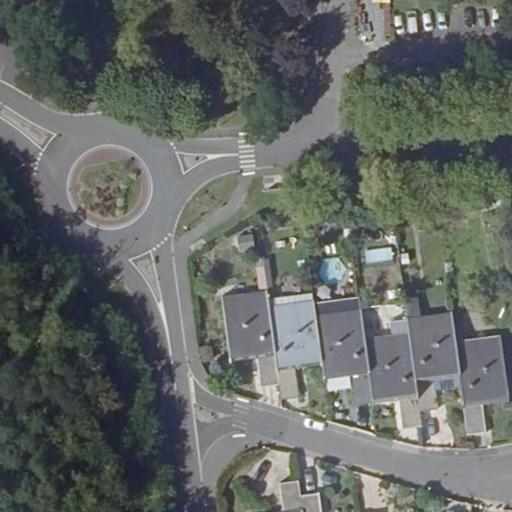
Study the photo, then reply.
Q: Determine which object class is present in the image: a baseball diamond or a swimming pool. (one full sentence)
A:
Looking from above, you can make out a swimming pool.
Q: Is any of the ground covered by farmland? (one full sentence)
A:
No, there is no farmland in the image.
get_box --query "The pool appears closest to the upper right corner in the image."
[366,248,392,264]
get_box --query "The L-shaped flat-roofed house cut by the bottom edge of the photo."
[280,482,321,512]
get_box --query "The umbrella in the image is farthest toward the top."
[317,285,331,299]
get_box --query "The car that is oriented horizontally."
[303,418,325,431]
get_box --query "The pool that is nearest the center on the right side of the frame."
[321,258,346,284]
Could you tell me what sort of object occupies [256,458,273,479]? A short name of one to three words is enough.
car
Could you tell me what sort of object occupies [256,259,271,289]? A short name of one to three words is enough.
shed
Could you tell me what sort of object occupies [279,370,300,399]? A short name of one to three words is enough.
building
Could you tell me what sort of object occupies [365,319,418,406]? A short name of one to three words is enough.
house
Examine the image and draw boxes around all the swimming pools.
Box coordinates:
[321,258,346,284]
[366,248,392,264]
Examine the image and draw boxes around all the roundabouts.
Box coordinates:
[34,112,186,262]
